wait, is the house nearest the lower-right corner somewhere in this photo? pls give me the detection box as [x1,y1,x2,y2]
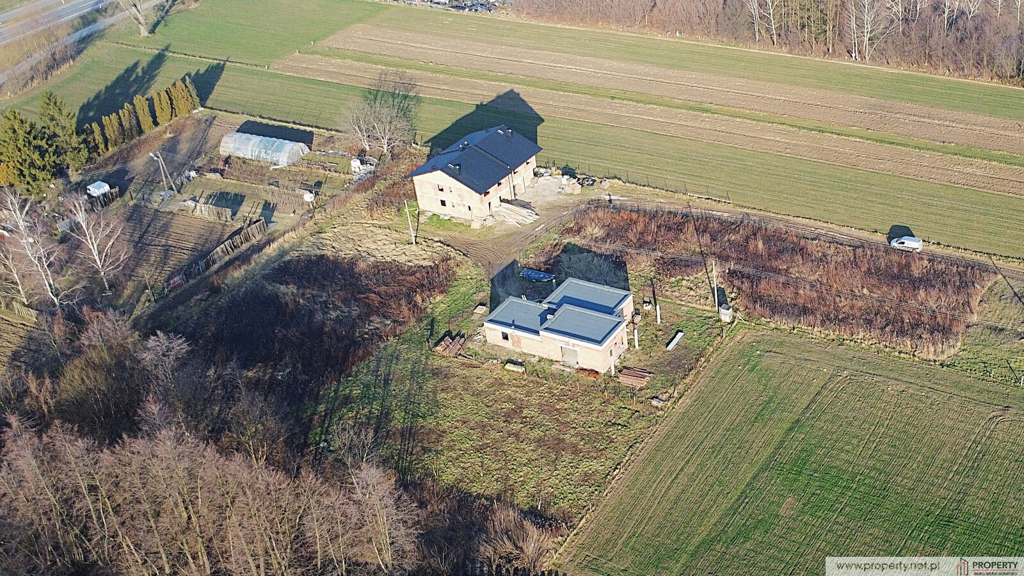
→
[483,277,638,375]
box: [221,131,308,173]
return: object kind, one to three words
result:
greenhouse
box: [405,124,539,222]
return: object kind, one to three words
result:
house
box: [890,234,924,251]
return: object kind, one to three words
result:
vehicle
